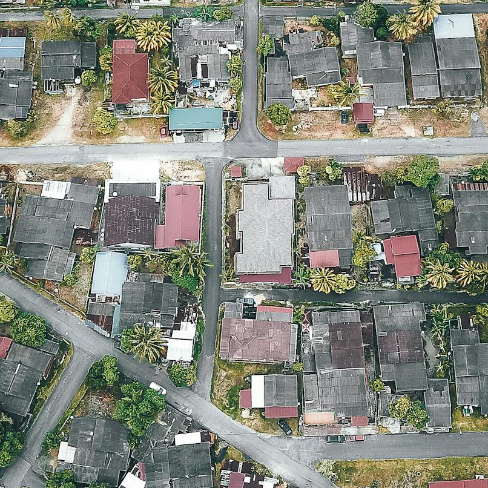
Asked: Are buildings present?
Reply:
Yes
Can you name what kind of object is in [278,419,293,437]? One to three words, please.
car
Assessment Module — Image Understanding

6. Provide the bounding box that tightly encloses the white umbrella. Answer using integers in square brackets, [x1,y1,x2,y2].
[201,86,216,99]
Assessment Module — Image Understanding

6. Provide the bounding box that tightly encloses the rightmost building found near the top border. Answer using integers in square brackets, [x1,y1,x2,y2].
[434,12,482,99]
